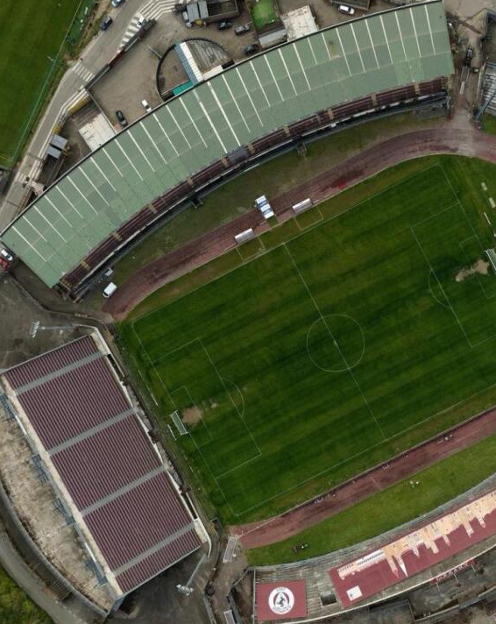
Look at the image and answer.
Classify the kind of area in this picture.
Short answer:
sports ground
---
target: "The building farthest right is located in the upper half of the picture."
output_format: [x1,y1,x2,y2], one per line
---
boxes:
[281,6,317,40]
